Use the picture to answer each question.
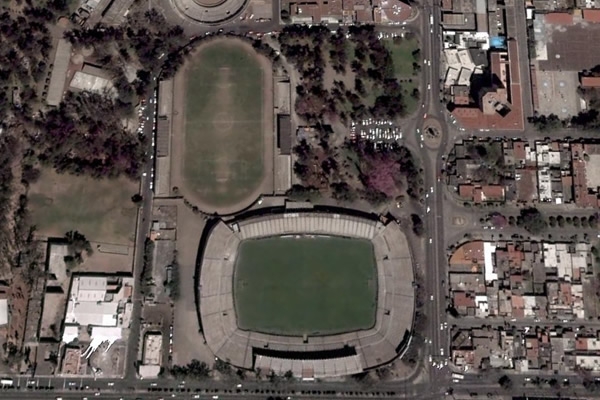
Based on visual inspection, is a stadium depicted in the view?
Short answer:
Yes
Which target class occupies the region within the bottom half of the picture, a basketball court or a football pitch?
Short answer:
football pitch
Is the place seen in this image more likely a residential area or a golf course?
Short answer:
residential area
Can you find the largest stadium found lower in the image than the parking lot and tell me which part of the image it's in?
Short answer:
bottom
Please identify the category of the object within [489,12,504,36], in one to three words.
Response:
house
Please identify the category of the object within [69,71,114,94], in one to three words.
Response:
building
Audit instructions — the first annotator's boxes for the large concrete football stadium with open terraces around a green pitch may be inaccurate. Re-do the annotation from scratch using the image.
[198,202,417,380]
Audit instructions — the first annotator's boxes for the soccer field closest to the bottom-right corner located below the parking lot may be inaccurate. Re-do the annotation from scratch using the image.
[234,237,376,335]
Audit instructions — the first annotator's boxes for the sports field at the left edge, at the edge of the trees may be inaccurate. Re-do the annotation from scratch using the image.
[30,170,138,246]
